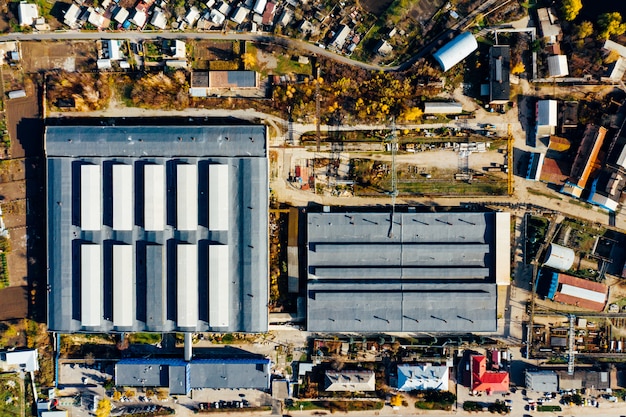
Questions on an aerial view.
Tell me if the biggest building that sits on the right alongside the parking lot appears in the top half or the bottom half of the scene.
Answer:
bottom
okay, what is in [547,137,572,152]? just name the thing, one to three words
shed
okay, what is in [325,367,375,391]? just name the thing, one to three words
house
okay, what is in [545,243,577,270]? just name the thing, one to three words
hangar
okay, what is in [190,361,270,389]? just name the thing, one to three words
building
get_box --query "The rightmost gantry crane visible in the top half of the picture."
[493,123,513,197]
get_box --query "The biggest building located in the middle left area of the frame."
[46,124,270,333]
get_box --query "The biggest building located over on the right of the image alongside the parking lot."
[307,212,510,332]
